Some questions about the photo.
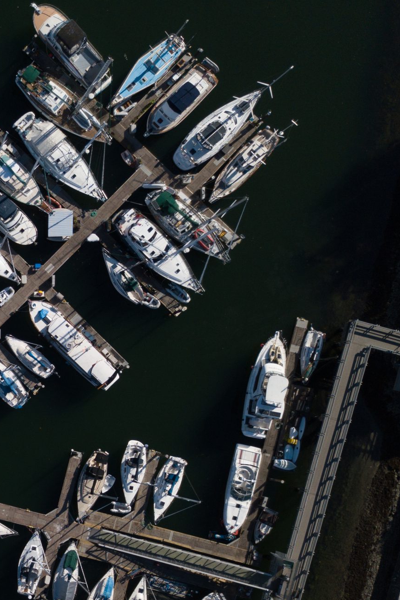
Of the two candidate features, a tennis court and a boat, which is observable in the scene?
boat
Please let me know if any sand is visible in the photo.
Yes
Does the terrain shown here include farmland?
No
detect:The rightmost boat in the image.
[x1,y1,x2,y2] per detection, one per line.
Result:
[299,329,338,382]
